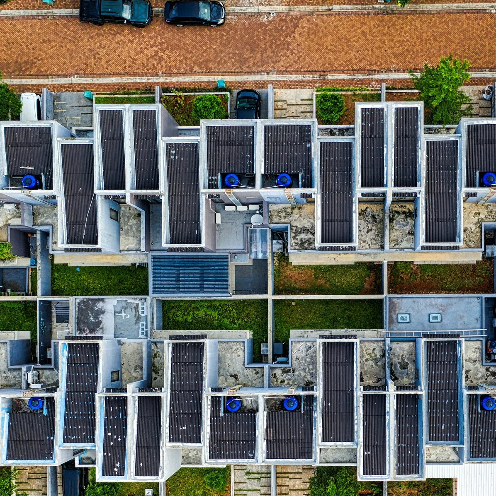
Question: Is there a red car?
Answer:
No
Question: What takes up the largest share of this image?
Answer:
buildings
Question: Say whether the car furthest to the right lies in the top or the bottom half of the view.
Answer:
top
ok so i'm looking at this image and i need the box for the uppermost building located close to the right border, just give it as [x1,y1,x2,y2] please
[388,100,496,261]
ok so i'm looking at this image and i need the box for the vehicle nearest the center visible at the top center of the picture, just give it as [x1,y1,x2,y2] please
[233,91,260,118]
